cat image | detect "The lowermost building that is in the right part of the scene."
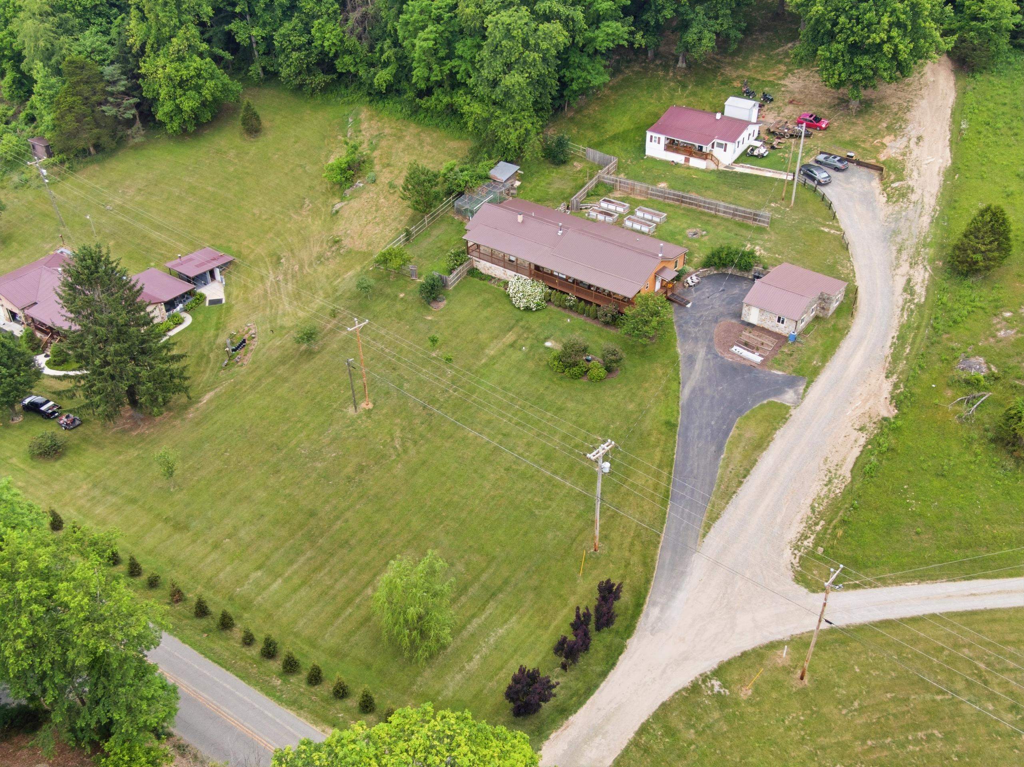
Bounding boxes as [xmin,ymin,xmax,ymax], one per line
[741,261,849,336]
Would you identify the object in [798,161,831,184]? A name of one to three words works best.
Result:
car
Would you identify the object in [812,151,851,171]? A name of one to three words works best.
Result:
car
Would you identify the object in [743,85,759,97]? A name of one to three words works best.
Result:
vehicle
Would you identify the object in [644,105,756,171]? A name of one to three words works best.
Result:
house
